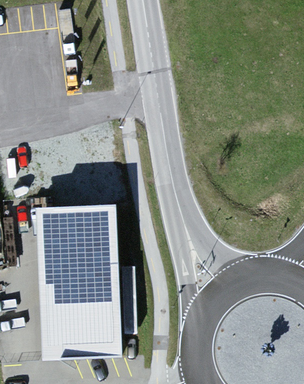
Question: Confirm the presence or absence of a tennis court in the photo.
No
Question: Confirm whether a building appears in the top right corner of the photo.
No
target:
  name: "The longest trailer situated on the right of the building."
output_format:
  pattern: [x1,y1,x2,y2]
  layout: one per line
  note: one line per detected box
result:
[122,268,137,336]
